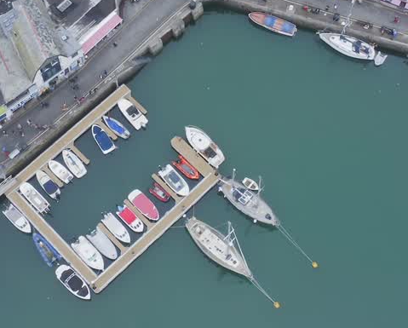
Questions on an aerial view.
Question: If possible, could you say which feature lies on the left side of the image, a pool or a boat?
boat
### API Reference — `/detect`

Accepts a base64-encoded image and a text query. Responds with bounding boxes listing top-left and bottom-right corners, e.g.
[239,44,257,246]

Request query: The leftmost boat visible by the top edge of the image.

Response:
[248,13,297,35]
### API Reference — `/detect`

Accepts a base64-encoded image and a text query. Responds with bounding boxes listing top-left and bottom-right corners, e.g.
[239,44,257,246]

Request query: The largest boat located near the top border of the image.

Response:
[319,4,377,60]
